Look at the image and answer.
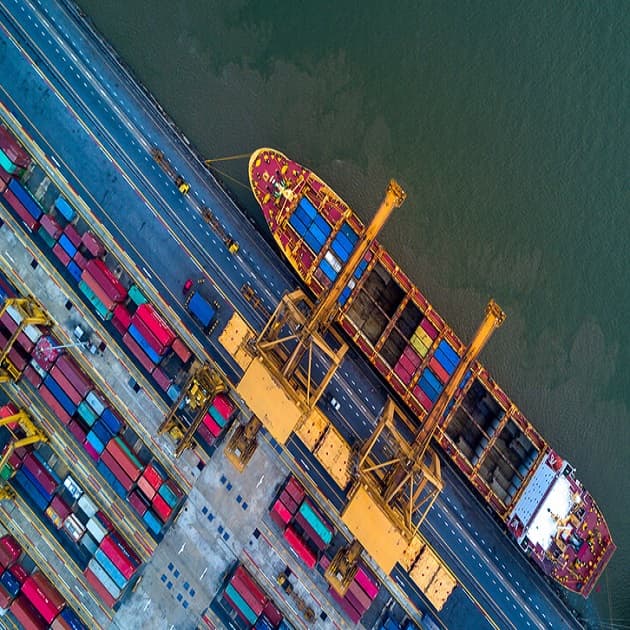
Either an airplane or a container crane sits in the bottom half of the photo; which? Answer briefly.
container crane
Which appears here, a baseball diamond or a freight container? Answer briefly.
freight container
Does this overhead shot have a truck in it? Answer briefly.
Yes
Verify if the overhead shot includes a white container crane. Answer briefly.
No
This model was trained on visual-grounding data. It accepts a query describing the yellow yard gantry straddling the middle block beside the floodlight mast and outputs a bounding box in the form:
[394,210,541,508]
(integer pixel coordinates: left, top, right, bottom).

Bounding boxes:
[0,294,54,389]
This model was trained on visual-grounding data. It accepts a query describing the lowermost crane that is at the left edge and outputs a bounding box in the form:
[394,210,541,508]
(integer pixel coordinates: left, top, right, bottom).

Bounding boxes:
[0,407,46,474]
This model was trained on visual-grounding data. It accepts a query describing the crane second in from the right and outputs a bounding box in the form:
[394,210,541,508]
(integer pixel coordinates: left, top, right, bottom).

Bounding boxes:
[221,181,406,476]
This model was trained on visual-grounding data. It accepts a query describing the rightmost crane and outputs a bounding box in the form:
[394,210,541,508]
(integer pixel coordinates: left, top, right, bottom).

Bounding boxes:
[321,303,507,597]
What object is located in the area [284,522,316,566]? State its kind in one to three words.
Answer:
shipping container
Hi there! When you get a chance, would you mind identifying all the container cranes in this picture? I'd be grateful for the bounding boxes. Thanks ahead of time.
[0,407,46,474]
[221,181,406,476]
[0,294,54,389]
[321,303,507,597]
[154,358,233,461]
